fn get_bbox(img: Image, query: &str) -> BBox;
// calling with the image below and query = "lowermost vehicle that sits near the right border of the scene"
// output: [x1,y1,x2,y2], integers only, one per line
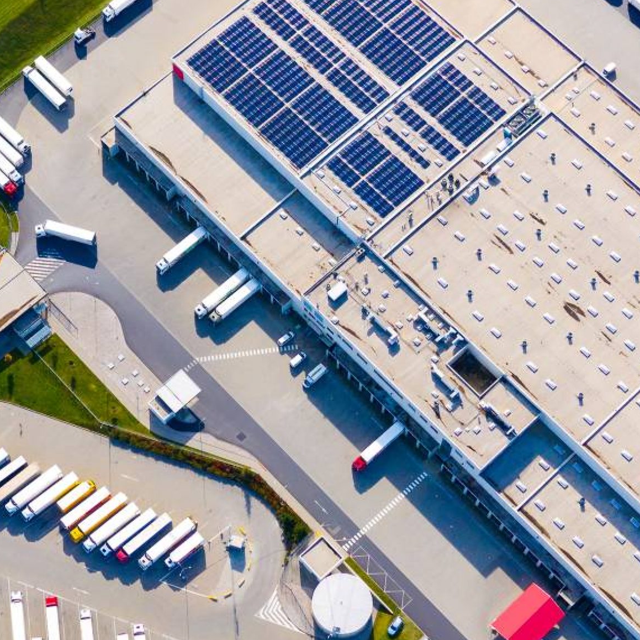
[603,60,616,79]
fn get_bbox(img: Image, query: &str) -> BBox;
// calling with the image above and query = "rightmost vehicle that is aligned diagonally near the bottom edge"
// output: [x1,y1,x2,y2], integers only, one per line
[387,618,401,637]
